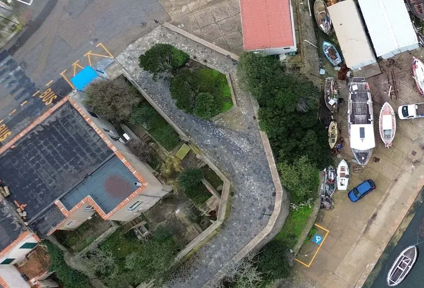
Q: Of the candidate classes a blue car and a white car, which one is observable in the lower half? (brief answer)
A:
blue car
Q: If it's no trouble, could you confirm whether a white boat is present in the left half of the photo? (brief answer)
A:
No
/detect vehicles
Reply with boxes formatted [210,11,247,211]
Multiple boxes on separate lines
[347,178,378,204]
[398,102,424,122]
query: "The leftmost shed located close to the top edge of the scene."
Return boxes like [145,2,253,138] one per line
[240,0,301,54]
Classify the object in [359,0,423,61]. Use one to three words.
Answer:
shed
